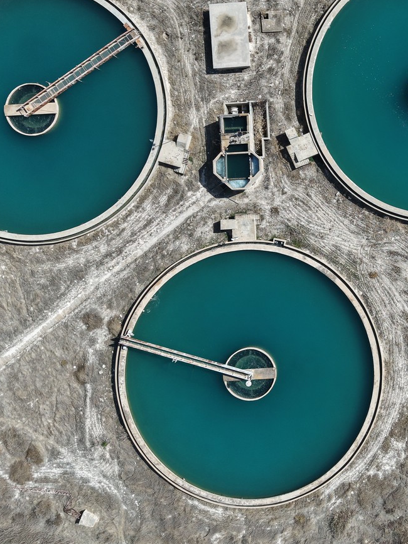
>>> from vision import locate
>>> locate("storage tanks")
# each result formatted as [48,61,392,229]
[300,0,408,223]
[0,0,173,247]
[114,231,386,510]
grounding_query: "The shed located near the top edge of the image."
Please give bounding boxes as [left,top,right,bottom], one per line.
[209,2,252,72]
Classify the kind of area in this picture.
industrial area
